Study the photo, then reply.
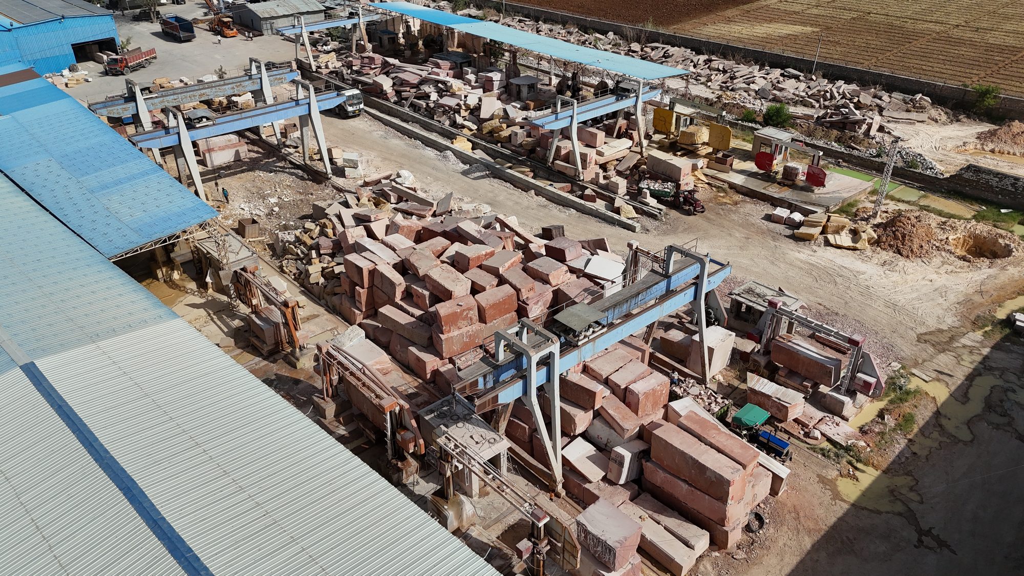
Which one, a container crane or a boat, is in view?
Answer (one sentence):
Looking from above, you can make out a container crane.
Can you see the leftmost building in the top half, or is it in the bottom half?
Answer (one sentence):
You can find the leftmost building in the top half.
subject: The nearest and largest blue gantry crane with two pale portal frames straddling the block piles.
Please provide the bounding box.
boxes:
[436,227,732,484]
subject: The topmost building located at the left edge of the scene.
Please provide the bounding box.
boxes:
[0,1,120,75]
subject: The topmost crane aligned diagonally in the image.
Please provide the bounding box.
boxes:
[181,0,238,36]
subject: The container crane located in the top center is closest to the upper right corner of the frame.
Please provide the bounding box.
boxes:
[523,73,662,179]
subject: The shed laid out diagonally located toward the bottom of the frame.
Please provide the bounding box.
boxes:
[0,168,503,576]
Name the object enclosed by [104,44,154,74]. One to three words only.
truck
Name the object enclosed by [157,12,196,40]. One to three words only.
truck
